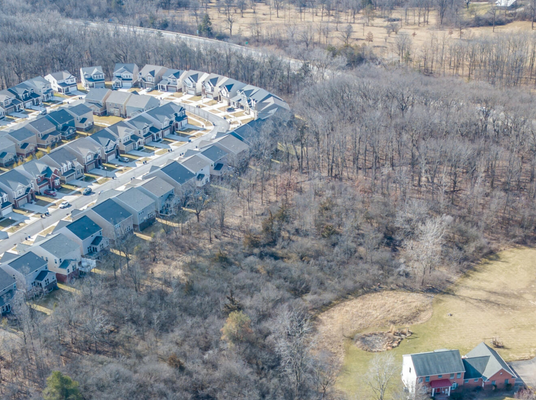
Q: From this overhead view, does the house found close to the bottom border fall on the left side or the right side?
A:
right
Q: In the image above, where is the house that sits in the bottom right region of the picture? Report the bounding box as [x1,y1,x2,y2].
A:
[401,341,518,400]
